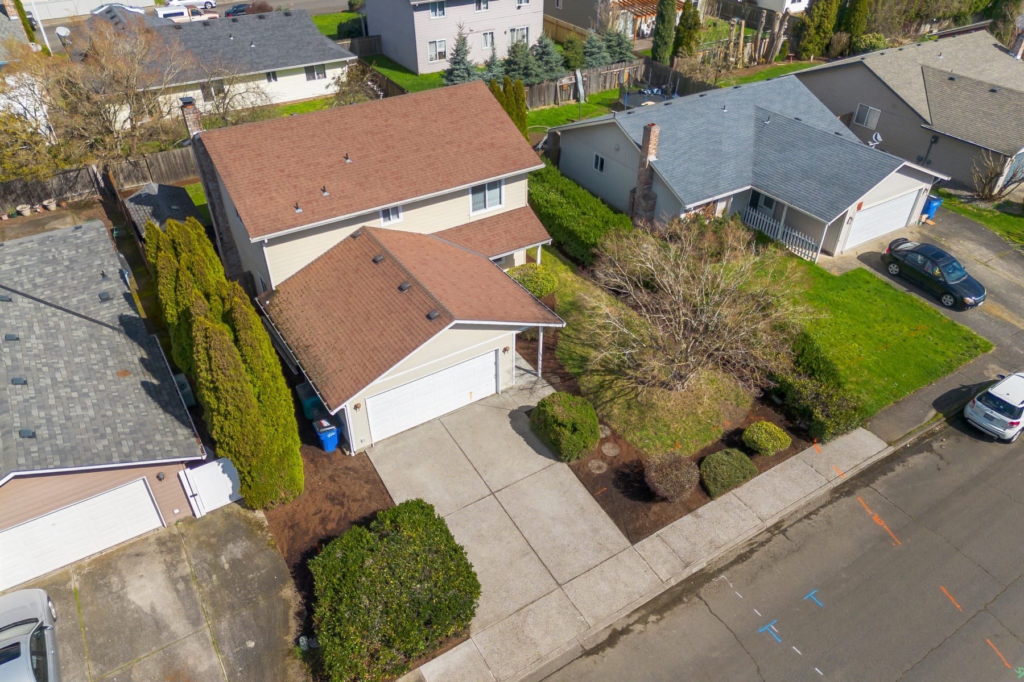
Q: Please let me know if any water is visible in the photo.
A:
No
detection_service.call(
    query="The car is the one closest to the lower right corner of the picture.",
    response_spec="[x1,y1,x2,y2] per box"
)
[962,376,1024,449]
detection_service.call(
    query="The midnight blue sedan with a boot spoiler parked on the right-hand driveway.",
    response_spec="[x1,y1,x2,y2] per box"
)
[886,242,991,309]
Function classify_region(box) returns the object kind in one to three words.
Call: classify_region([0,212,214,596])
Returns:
house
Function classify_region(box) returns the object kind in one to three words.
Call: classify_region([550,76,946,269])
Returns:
house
